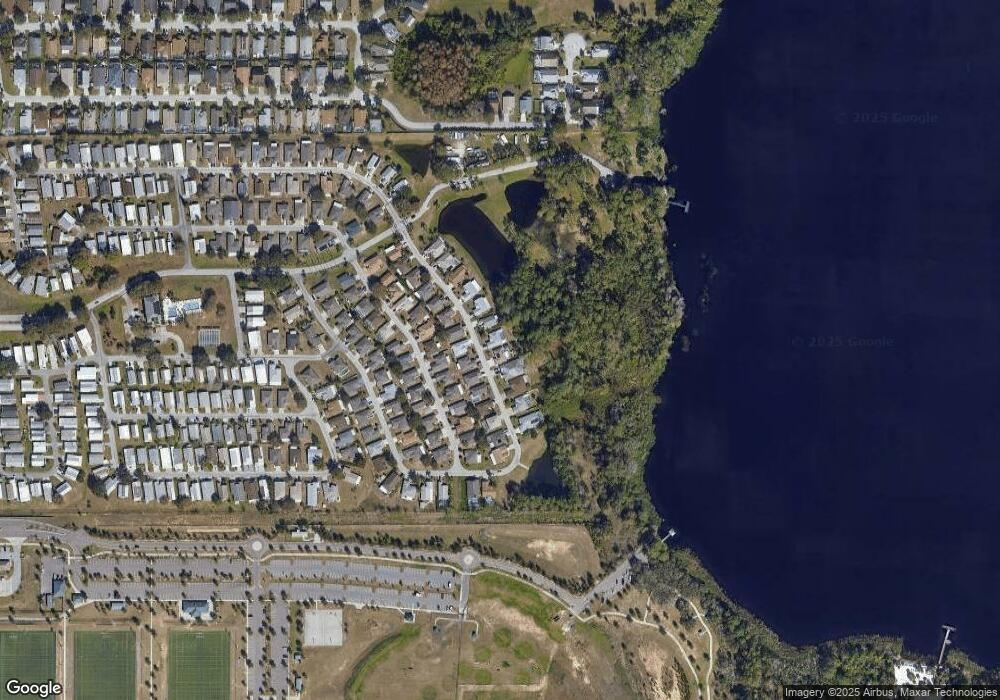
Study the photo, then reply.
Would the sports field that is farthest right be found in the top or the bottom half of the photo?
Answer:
bottom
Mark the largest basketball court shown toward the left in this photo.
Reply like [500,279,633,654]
[305,609,342,646]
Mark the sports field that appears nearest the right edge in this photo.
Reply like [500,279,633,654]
[168,631,230,700]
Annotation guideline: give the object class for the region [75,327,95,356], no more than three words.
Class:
house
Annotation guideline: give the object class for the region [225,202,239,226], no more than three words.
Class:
house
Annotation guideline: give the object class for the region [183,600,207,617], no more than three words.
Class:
building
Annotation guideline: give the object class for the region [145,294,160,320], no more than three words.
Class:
building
